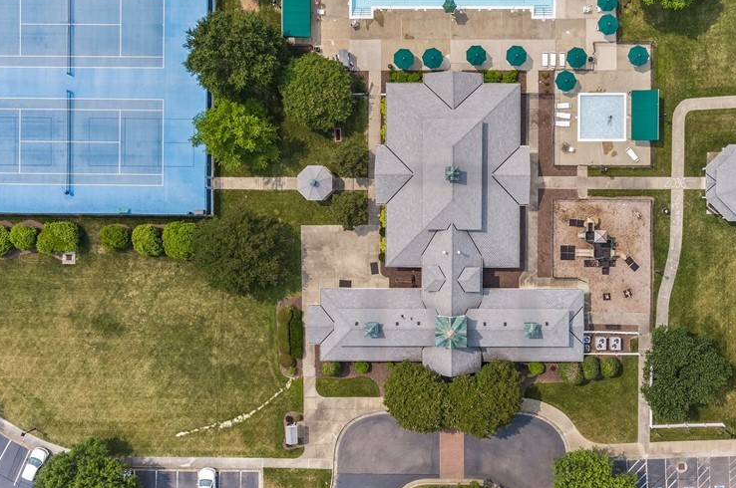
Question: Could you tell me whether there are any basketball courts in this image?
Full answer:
No, there appears to be no basketball court in this shot.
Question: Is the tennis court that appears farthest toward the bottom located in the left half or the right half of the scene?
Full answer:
The tennis court that appears farthest toward the bottom sits on the left side.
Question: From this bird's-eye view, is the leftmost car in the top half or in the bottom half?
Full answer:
Seen from above, the leftmost car lies in the bottom half of the view.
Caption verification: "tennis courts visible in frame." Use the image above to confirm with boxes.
[0,89,195,193]
[0,0,164,77]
